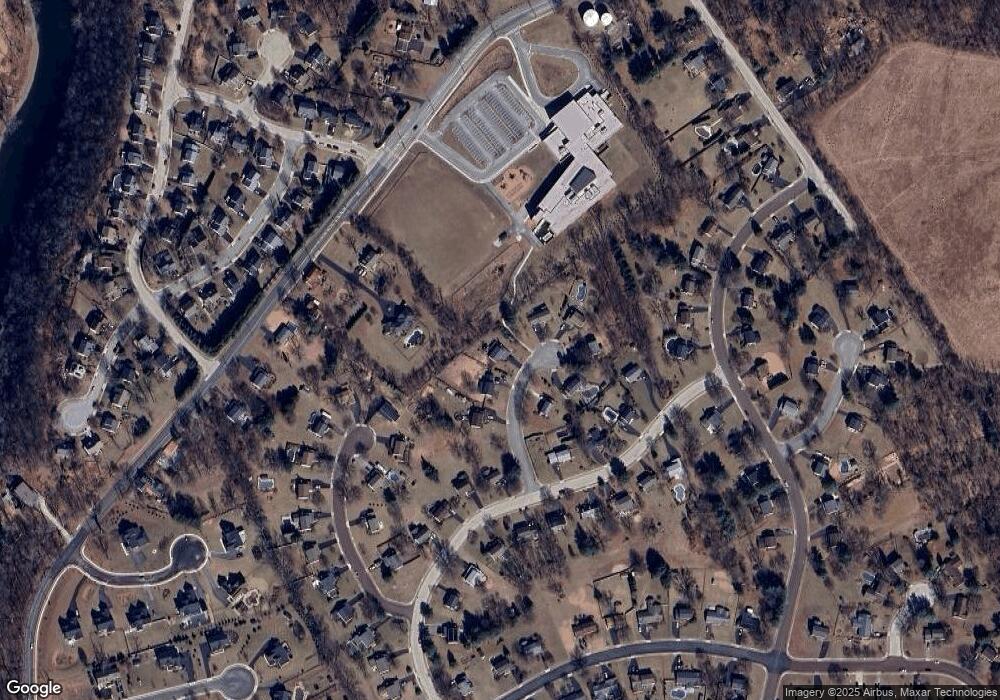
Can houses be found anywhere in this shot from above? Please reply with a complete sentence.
Yes, there's a house down there.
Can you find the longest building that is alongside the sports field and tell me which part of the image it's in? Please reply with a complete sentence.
You can find the longest building that is alongside the sports field in the top area of the picture.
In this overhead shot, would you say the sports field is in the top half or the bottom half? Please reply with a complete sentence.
The sports field sits in the top half of the picture.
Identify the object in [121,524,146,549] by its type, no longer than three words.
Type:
house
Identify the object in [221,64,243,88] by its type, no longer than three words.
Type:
house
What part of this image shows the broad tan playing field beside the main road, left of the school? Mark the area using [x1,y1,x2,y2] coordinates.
[372,146,512,289]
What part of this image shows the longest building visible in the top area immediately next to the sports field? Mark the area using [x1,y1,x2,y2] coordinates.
[533,92,623,245]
